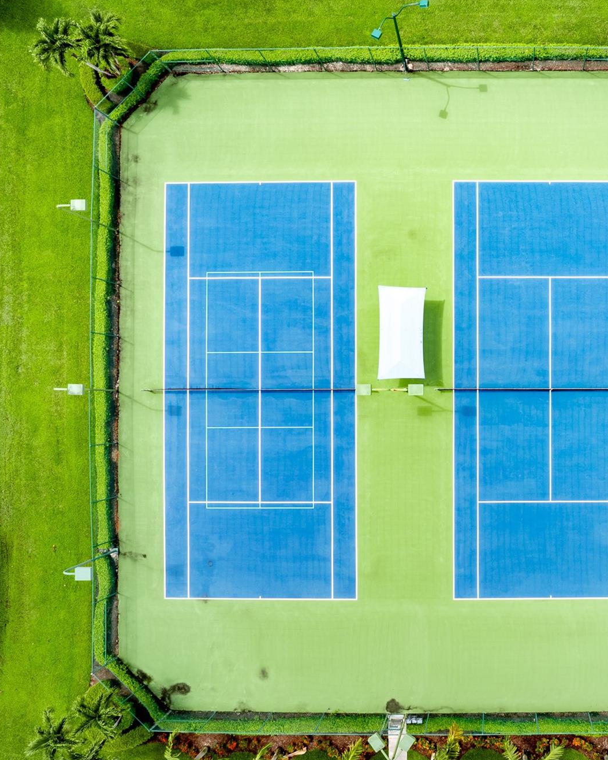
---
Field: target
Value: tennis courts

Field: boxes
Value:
[453,181,608,599]
[164,182,356,600]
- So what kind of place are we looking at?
sports ground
